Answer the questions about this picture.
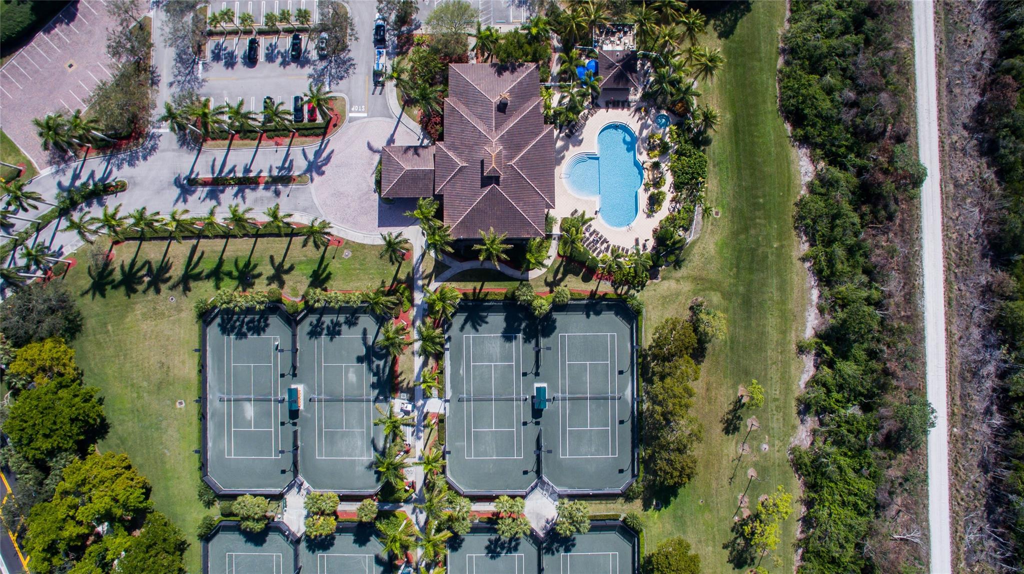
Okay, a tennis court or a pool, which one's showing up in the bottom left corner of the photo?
tennis court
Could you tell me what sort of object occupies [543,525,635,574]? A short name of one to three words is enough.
tennis court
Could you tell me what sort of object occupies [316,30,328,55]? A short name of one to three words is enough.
vehicle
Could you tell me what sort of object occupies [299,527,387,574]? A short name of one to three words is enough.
tennis court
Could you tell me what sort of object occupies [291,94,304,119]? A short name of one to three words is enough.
vehicle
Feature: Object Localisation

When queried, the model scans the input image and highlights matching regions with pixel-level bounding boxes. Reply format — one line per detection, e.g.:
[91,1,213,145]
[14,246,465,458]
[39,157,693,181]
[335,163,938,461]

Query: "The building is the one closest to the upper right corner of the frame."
[598,49,638,90]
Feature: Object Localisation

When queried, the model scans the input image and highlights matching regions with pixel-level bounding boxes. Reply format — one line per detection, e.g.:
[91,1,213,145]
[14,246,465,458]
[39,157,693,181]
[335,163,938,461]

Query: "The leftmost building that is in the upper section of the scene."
[381,62,556,238]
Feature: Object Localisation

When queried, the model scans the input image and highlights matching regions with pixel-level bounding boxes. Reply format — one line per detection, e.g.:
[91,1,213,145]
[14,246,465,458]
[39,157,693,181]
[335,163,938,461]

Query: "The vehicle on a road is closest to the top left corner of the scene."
[244,36,258,62]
